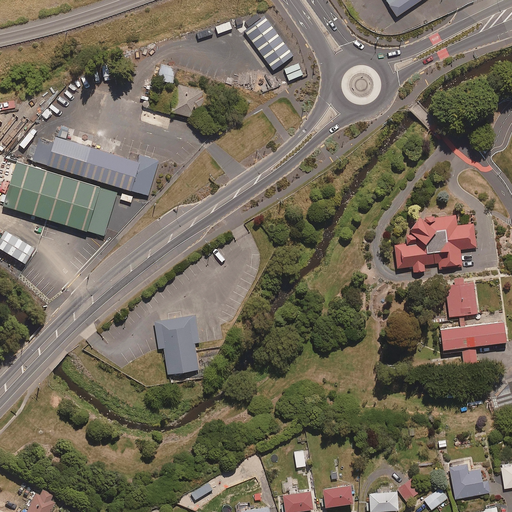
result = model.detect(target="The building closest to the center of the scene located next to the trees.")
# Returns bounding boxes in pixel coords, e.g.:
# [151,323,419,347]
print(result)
[154,316,199,376]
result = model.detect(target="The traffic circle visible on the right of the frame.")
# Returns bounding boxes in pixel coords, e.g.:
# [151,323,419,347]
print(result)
[342,65,381,104]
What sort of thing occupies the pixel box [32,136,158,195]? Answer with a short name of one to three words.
building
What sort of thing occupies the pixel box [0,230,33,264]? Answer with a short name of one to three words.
shed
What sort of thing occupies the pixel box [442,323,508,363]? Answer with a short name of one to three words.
building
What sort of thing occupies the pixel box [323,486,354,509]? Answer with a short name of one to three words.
house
